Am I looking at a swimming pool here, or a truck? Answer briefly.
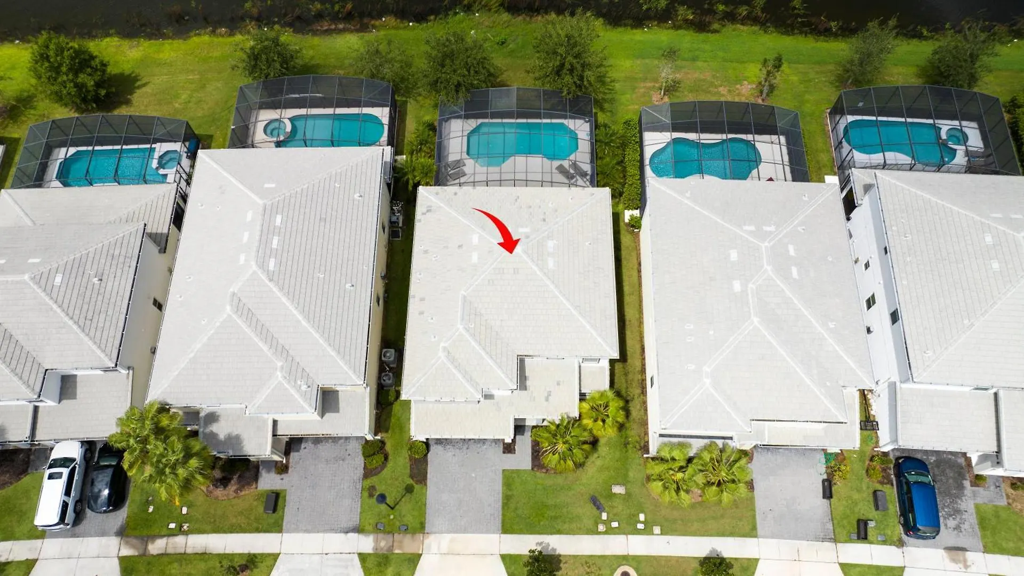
swimming pool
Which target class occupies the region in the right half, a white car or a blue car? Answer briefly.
blue car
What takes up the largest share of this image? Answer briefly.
buildings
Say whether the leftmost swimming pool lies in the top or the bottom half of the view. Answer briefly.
top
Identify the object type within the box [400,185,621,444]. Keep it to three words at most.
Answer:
house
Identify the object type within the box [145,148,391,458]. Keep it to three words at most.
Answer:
house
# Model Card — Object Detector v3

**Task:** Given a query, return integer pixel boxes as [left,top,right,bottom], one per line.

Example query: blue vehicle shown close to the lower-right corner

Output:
[892,457,946,538]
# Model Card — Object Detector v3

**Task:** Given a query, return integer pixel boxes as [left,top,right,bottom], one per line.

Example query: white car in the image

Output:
[28,444,90,529]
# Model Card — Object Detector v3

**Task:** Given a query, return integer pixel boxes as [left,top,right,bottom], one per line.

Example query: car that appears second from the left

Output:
[88,444,128,514]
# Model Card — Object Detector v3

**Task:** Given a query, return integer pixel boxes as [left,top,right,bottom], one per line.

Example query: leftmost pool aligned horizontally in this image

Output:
[52,145,180,185]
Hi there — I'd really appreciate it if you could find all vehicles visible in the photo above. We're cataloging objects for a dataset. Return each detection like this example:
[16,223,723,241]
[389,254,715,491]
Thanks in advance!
[892,457,946,538]
[28,444,90,529]
[88,444,128,514]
